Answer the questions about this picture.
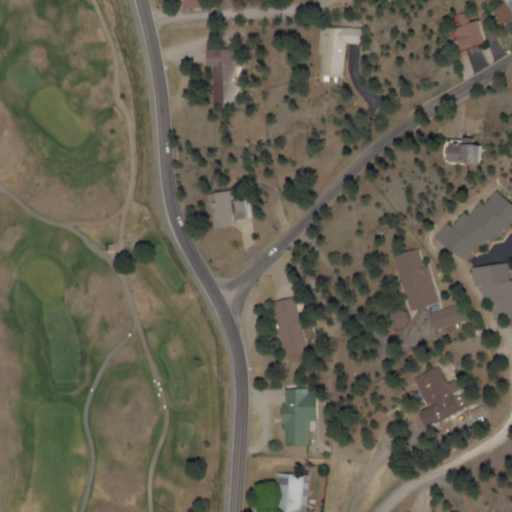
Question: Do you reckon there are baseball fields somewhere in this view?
No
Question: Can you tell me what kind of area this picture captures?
golf course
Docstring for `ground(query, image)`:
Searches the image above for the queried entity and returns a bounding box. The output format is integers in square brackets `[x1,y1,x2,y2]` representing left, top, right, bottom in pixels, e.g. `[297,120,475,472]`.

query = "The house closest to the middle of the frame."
[212,191,252,227]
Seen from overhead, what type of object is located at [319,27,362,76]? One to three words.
house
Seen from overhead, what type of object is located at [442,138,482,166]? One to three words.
house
